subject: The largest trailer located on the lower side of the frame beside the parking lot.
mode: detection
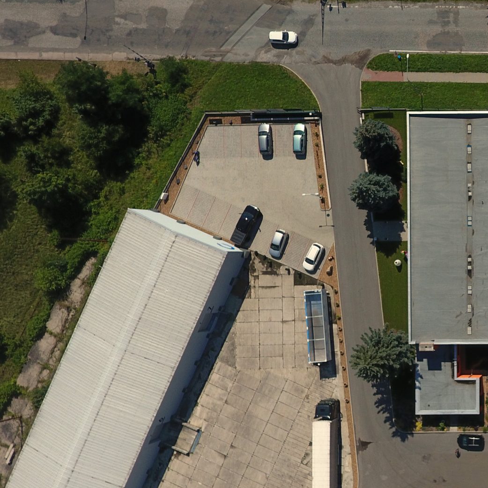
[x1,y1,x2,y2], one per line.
[304,288,332,363]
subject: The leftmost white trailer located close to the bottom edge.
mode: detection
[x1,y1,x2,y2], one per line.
[312,419,338,488]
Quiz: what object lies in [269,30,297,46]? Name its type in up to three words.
car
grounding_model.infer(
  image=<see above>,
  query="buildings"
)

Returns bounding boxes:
[406,111,488,351]
[5,208,246,488]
